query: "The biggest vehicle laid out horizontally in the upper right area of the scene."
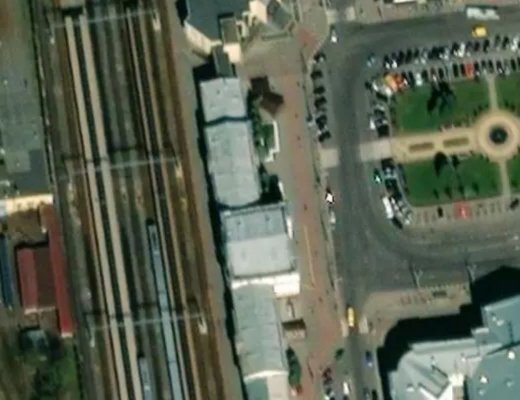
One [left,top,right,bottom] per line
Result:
[464,9,498,23]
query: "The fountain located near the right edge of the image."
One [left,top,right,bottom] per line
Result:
[488,124,508,145]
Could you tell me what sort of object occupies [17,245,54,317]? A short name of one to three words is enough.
shed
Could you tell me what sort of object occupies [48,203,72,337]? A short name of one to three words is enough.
shed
